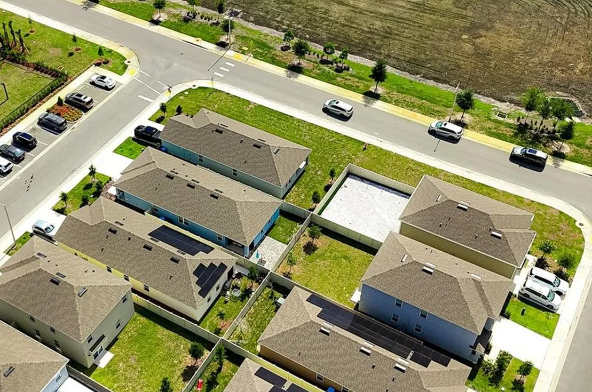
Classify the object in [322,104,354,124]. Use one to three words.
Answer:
car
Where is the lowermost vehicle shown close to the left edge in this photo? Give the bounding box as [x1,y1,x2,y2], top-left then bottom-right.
[27,217,60,240]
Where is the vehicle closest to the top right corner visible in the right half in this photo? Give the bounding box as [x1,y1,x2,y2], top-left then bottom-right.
[510,151,549,173]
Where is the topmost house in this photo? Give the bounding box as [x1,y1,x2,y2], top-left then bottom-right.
[159,108,315,199]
